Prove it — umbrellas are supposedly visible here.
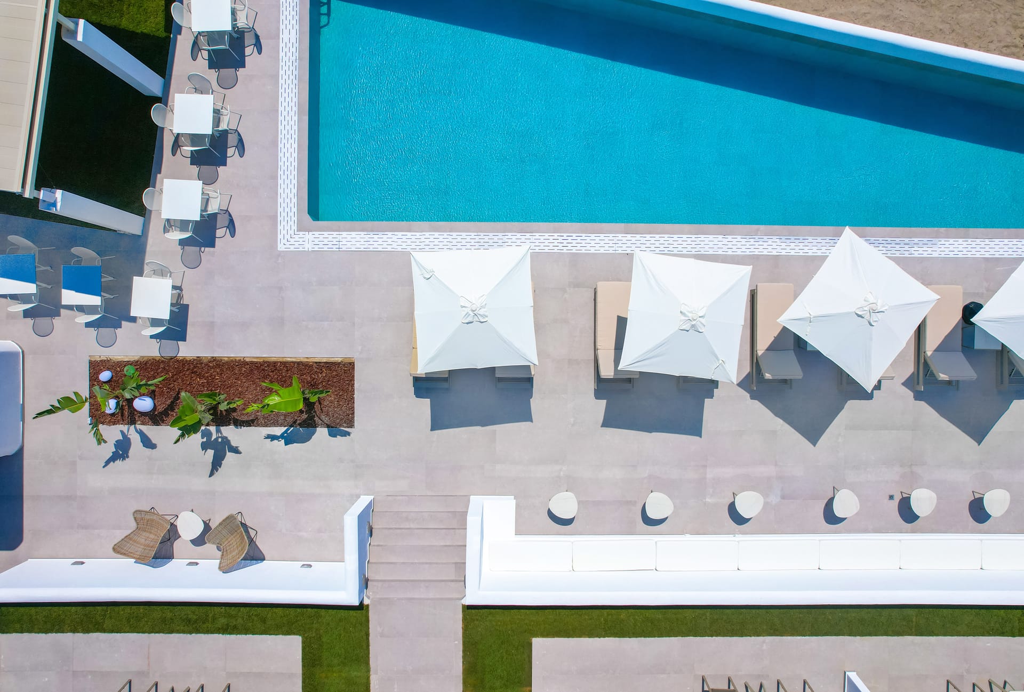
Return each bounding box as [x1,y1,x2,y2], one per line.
[411,245,538,372]
[778,227,940,392]
[961,249,1024,361]
[618,251,752,384]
